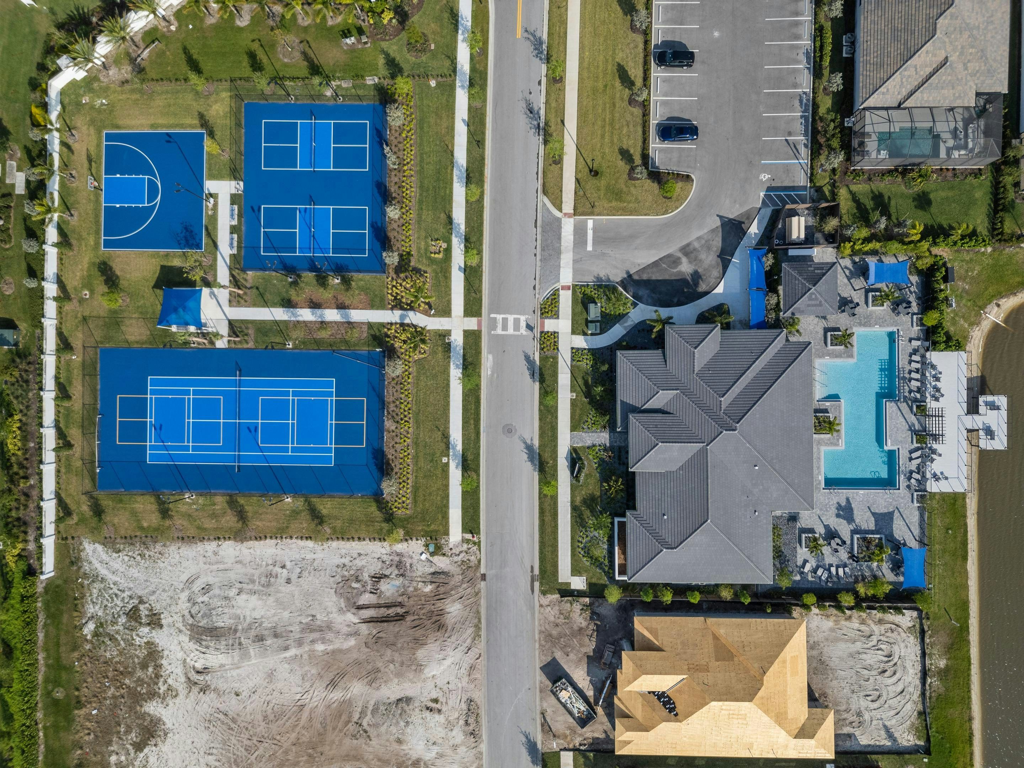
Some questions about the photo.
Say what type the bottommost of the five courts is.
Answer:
tennis court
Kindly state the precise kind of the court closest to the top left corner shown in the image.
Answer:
basketball court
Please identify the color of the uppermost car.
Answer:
black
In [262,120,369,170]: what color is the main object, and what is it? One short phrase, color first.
blue sports court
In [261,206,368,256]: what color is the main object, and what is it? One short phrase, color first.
blue sports court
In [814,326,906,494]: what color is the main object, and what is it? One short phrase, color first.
blue swimming pool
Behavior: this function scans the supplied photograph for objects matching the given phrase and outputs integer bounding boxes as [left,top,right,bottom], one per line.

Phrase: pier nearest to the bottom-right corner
[966,395,1013,450]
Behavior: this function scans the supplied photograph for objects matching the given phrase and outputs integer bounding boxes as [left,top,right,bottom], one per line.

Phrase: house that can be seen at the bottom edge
[614,616,834,758]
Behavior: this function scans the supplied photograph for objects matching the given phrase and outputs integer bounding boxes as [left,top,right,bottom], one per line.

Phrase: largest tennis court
[97,347,386,497]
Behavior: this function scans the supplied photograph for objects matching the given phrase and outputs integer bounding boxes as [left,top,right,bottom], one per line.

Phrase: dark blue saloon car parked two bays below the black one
[659,123,699,142]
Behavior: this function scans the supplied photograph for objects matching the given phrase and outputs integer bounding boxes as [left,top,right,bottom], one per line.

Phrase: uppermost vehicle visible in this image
[658,48,696,68]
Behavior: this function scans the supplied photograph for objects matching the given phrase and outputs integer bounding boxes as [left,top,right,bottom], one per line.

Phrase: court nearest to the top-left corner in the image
[102,131,206,252]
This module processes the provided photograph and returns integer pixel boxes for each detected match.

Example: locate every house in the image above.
[614,616,834,758]
[853,0,1014,113]
[616,324,814,584]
